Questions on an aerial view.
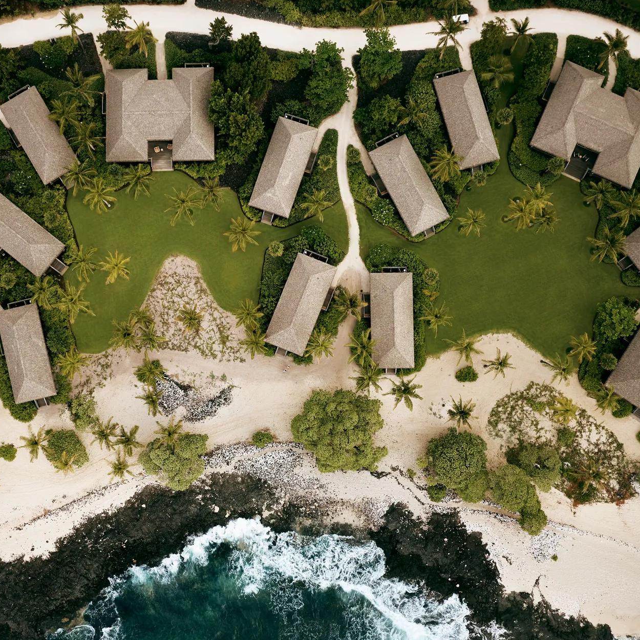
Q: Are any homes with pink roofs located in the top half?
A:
No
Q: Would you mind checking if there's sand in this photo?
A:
Yes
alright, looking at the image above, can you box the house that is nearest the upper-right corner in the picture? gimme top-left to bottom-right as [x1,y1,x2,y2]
[529,60,640,188]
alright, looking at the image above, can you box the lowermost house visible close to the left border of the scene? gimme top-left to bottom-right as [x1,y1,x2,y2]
[0,298,57,413]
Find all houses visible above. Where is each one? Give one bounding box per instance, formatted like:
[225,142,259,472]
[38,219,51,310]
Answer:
[0,298,57,413]
[0,84,79,195]
[367,132,449,245]
[431,68,500,185]
[263,249,337,363]
[602,324,640,425]
[361,266,414,382]
[607,228,640,277]
[529,60,640,188]
[0,193,72,278]
[103,65,214,178]
[249,113,318,231]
